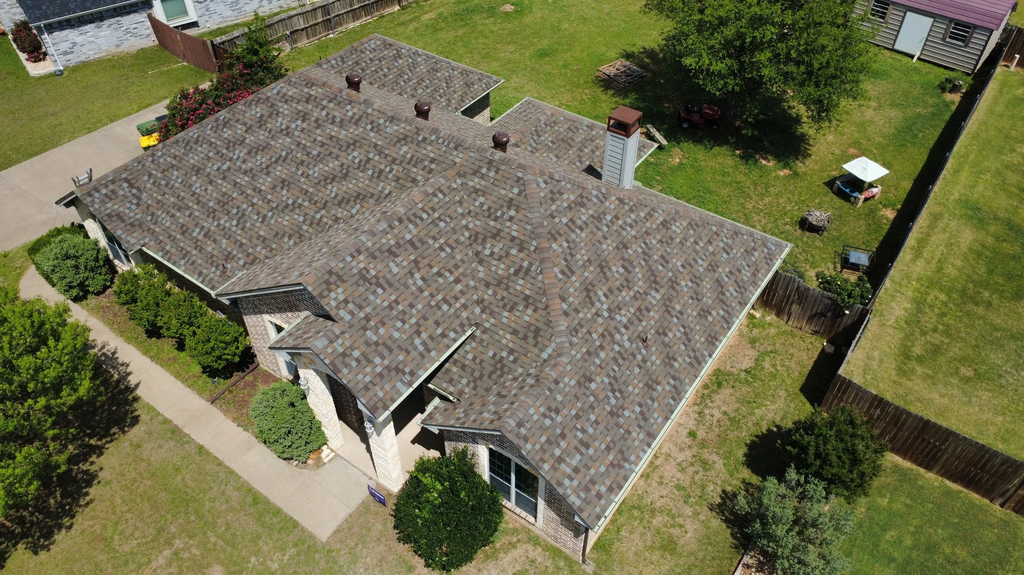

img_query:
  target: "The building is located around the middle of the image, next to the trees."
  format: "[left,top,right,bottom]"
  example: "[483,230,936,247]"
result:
[53,33,795,575]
